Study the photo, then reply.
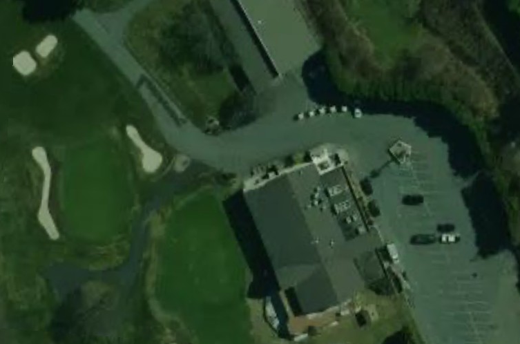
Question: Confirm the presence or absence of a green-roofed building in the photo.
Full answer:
Yes, the frame does contain a green-roofed building.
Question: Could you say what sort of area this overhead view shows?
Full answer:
This image shows a golf course.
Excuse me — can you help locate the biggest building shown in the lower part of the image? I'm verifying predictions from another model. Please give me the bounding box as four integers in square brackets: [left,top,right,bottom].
[243,142,403,341]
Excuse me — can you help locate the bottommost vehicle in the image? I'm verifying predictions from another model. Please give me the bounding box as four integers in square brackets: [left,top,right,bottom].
[386,243,400,265]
